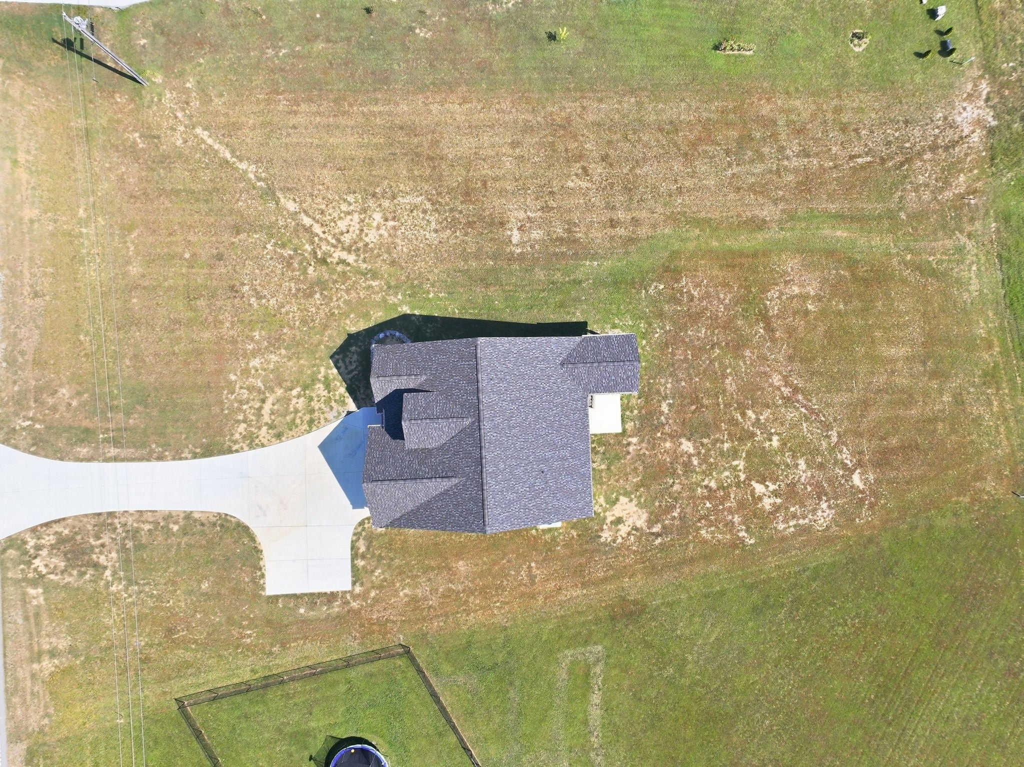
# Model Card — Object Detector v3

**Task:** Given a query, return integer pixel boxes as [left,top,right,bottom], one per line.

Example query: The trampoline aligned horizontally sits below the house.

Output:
[330,739,395,767]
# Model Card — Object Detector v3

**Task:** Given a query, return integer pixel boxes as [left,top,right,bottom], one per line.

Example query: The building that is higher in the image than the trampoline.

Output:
[361,331,641,534]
